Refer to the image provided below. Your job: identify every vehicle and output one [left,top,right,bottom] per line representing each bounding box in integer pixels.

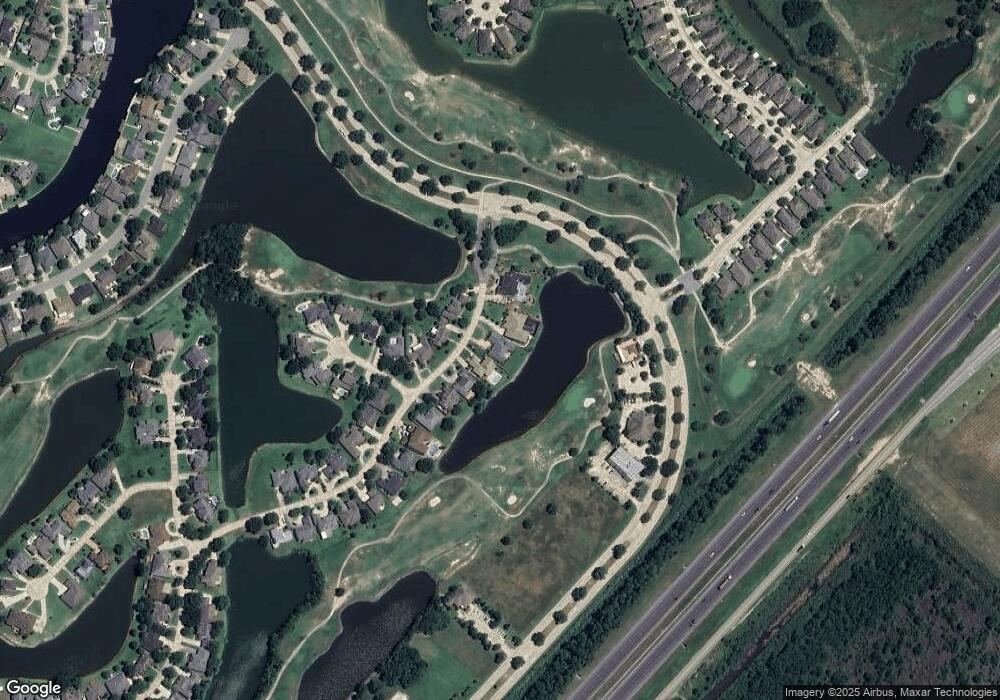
[786,497,798,510]
[827,411,840,424]
[719,576,731,590]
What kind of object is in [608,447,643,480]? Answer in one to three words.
building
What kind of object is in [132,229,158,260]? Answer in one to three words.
house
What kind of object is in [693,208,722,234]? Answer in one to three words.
house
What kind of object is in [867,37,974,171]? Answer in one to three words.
pond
